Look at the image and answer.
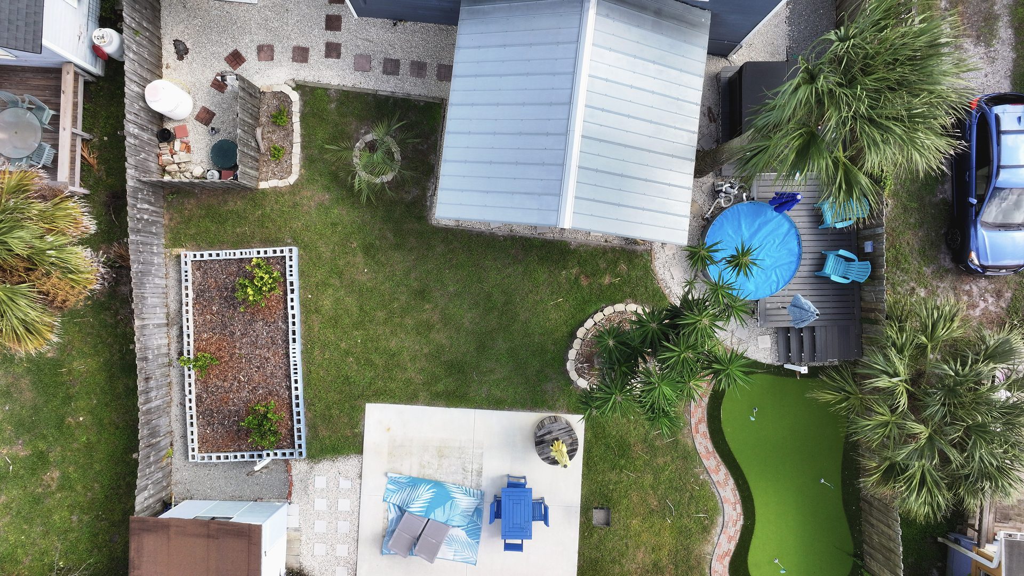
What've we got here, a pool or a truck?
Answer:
pool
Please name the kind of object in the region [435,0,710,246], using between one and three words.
building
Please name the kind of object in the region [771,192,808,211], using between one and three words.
umbrella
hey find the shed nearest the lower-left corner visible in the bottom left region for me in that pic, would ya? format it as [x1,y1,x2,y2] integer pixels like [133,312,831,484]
[128,500,289,576]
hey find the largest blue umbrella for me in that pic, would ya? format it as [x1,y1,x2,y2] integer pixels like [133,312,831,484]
[785,293,823,338]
